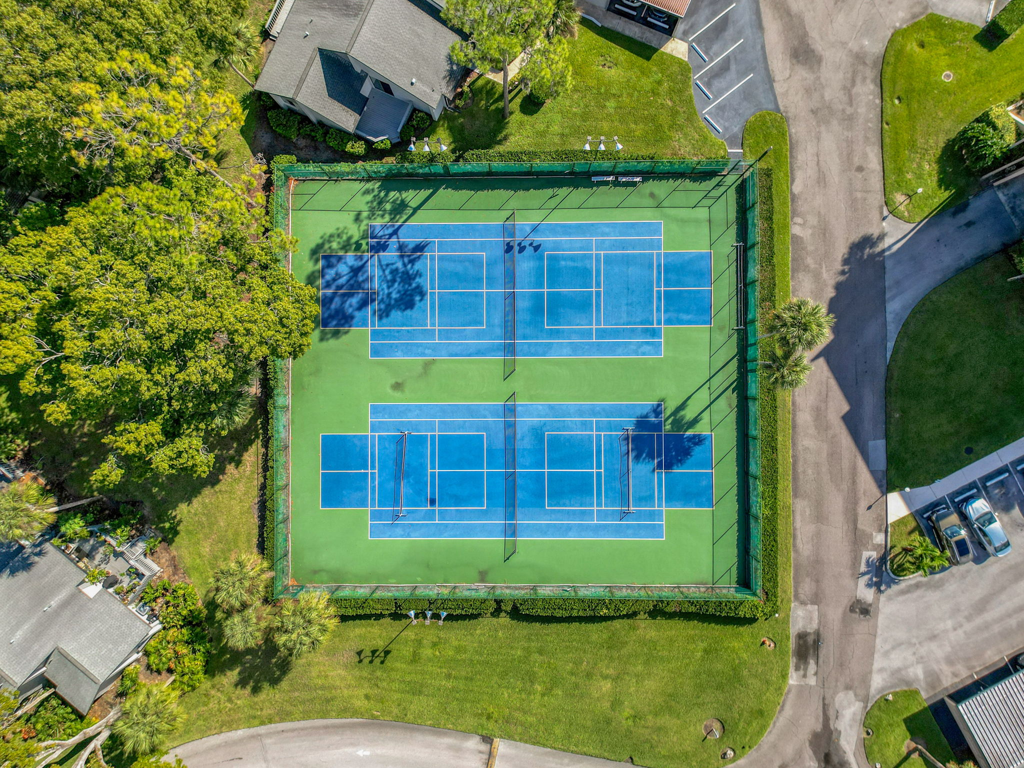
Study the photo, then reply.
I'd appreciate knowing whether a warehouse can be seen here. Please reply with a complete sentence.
No, the photo shows no warehouse.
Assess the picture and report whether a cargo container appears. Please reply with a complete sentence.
No, I find no cargo container anywhere in the image.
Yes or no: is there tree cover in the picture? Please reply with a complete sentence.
Yes, there is tree cover in the image.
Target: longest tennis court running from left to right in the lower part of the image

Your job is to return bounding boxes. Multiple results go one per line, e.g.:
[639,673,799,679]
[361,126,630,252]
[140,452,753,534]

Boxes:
[289,380,746,586]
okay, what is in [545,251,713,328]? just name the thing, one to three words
sports court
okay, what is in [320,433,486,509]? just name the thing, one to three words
sports court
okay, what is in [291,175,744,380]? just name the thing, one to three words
tennis court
